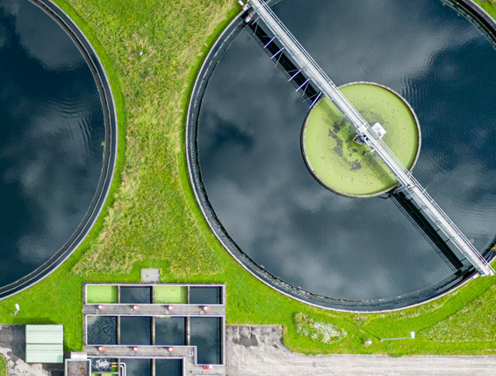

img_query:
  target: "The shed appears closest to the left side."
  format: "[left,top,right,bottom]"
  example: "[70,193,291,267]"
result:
[26,327,64,364]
